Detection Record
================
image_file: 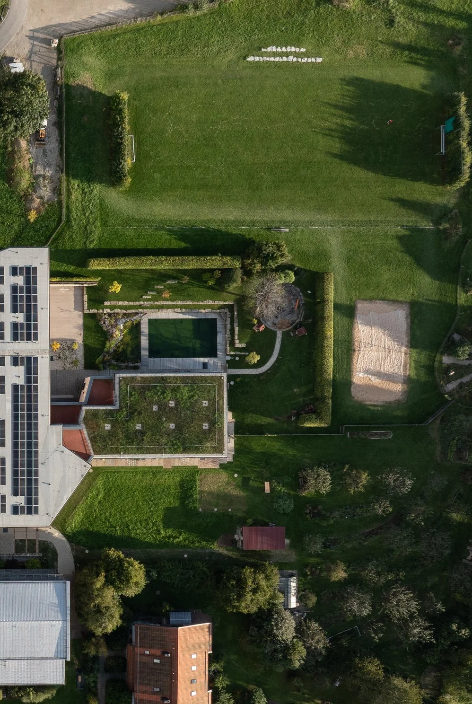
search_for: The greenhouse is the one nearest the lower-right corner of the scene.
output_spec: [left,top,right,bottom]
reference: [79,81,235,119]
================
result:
[278,577,301,609]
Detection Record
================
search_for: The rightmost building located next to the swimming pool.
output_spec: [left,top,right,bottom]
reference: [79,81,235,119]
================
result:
[51,373,228,464]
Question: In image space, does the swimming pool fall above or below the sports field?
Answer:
below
